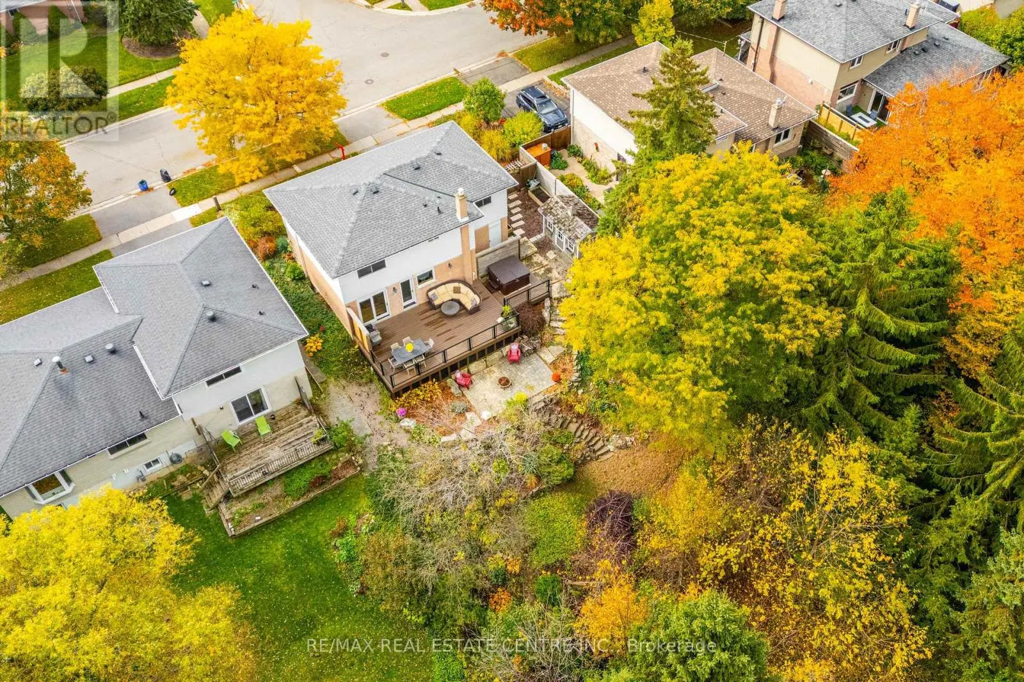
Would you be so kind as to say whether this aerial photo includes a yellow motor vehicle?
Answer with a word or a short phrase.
No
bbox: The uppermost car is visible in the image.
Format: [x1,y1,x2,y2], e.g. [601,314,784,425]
[522,85,566,129]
